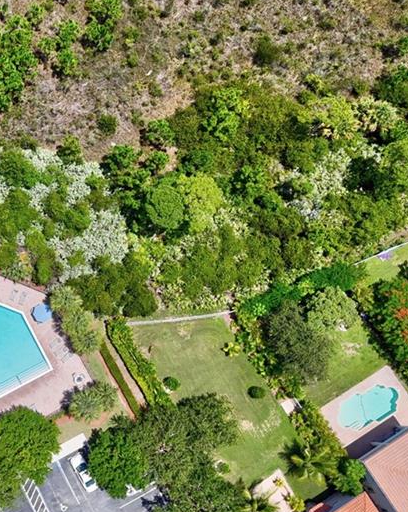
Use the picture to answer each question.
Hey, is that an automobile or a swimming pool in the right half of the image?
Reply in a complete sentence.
The feature located in the right half of the image is a swimming pool.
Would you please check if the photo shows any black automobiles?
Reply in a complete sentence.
No, there is no black automobile in the image.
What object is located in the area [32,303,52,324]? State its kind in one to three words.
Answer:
umbrella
